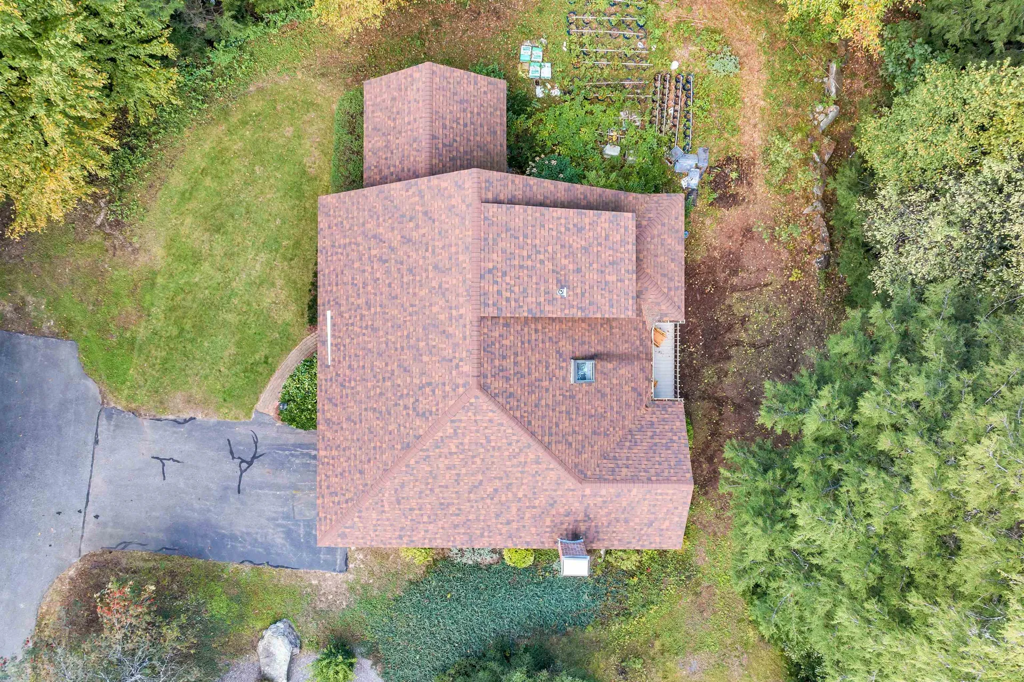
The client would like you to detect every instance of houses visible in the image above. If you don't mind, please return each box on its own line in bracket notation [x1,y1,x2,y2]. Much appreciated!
[316,62,696,576]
